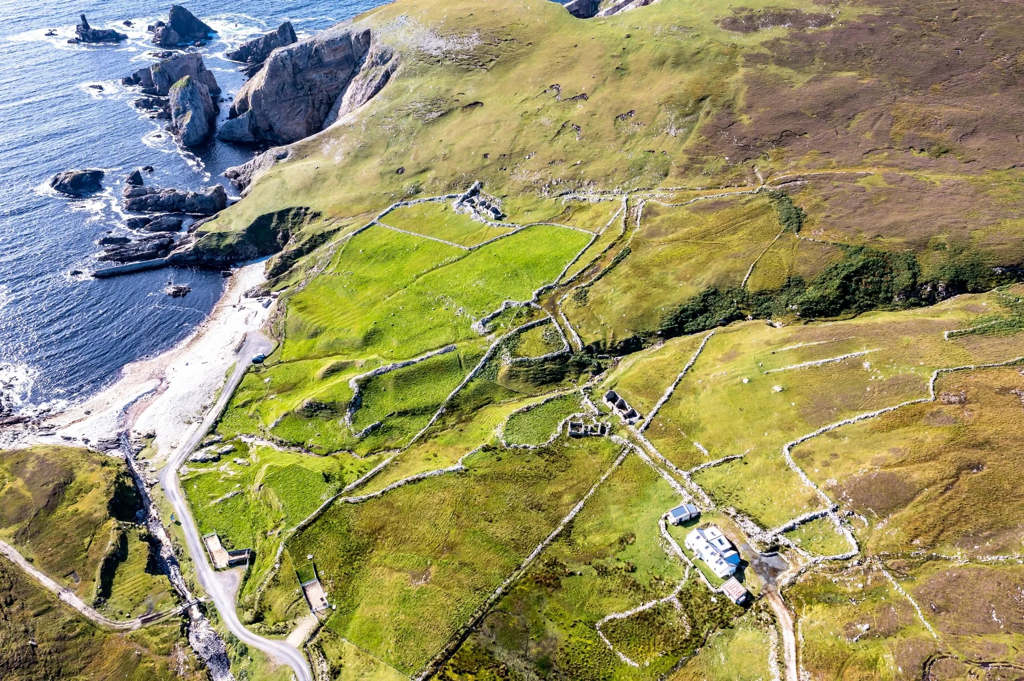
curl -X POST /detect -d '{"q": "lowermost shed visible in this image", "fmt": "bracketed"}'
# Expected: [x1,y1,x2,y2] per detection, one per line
[722,578,749,607]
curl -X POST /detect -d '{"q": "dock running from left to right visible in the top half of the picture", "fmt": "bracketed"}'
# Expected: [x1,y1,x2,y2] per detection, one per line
[95,255,172,278]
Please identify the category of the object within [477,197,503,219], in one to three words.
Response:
house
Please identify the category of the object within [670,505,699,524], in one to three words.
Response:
shed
